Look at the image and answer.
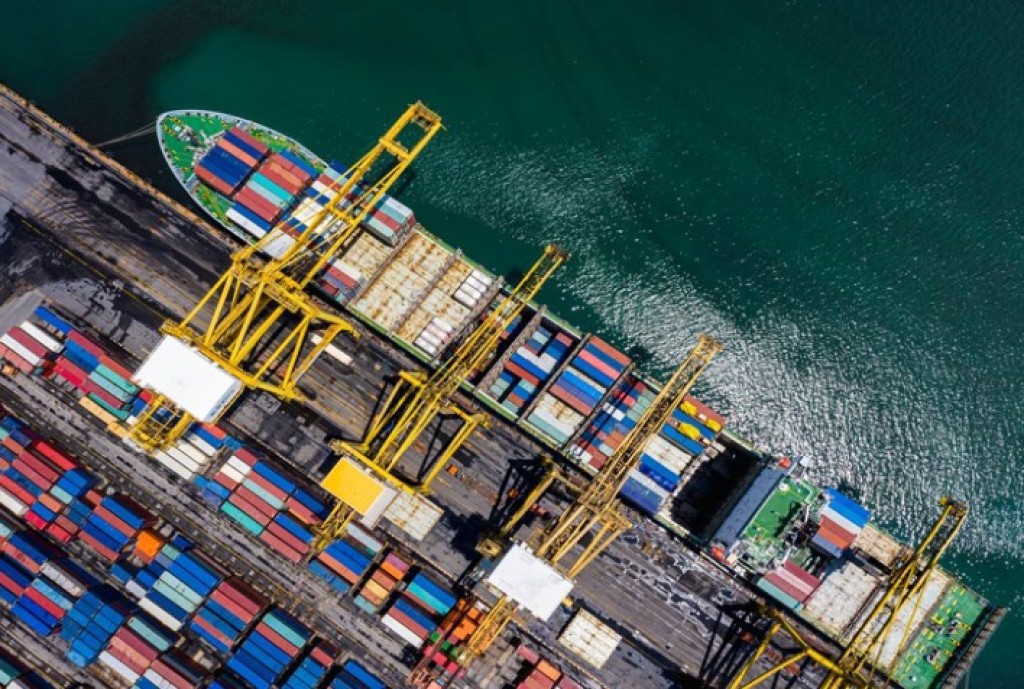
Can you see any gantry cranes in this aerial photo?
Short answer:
Yes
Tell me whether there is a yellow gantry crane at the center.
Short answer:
Yes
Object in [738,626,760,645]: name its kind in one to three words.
vehicle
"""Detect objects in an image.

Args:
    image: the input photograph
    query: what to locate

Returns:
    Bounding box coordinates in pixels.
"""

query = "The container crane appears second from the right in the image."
[459,332,724,668]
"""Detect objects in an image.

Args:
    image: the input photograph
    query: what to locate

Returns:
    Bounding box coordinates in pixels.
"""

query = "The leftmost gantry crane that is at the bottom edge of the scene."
[397,563,490,689]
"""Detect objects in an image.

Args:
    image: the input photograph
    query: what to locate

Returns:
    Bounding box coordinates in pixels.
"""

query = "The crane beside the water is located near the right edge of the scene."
[696,500,974,689]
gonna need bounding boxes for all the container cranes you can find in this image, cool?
[133,102,445,450]
[459,332,724,668]
[397,563,490,689]
[310,244,565,550]
[696,500,974,689]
